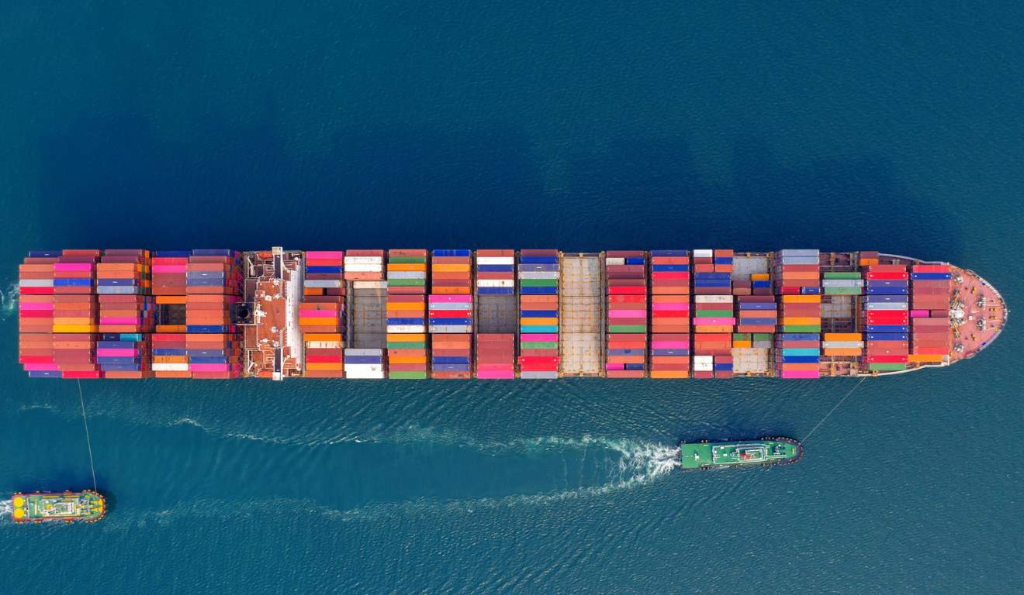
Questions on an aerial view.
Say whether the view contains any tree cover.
No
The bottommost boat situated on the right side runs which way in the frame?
from left to right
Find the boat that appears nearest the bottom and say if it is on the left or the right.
left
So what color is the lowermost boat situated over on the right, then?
green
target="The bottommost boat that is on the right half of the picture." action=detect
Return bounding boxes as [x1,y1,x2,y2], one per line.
[678,435,804,470]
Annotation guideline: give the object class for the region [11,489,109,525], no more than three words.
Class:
boat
